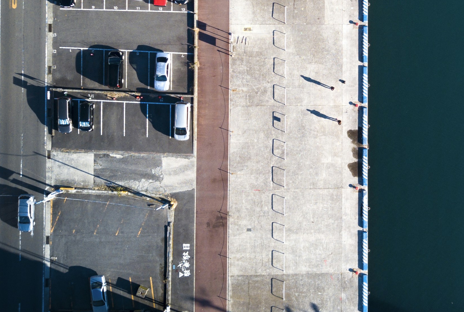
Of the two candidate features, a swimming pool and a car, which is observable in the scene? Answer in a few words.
car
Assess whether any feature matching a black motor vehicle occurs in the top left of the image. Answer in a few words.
Yes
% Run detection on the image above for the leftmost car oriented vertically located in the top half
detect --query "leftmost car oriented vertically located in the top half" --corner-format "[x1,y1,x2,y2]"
[53,96,72,135]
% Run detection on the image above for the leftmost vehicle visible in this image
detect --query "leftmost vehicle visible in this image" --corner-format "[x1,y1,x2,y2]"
[13,194,34,234]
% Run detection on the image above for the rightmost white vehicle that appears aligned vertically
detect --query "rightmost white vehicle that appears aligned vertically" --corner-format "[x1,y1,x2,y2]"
[172,101,190,141]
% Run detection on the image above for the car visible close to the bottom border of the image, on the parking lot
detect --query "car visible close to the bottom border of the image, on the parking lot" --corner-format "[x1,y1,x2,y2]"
[89,277,108,312]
